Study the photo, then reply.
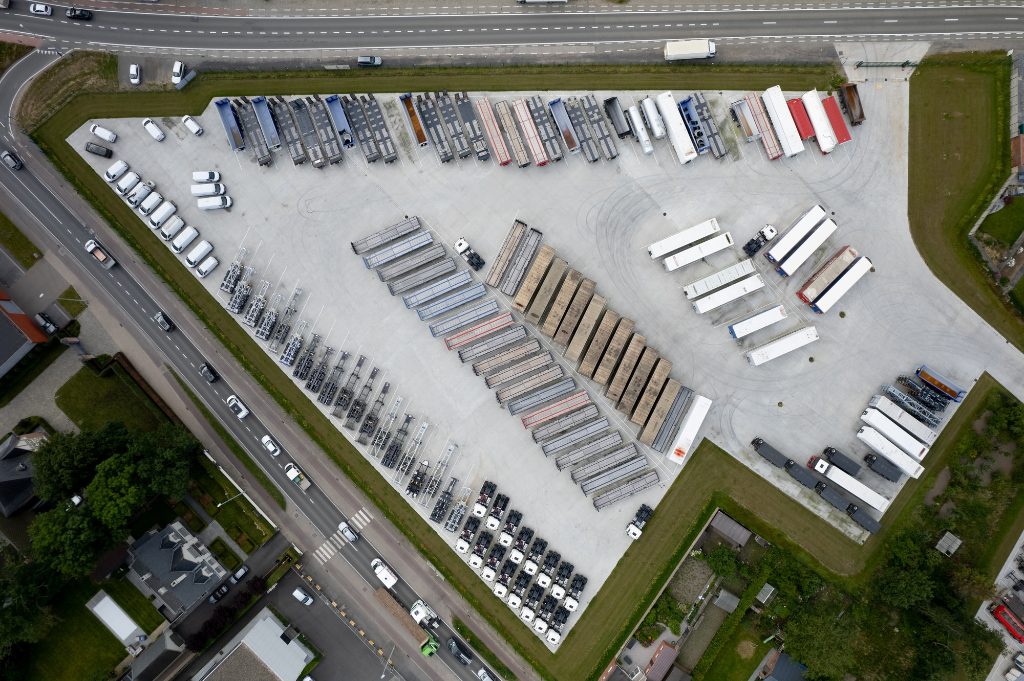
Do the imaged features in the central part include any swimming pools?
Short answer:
No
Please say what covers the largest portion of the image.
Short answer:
paved ground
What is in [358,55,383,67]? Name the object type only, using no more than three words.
vehicle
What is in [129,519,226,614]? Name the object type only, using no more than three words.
house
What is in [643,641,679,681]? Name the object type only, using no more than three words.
shed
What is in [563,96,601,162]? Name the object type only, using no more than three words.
trailer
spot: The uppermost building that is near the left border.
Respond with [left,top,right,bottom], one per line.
[0,292,45,383]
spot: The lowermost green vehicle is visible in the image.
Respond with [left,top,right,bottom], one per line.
[422,636,441,659]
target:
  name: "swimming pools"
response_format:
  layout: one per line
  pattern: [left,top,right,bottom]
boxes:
[84,585,151,654]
